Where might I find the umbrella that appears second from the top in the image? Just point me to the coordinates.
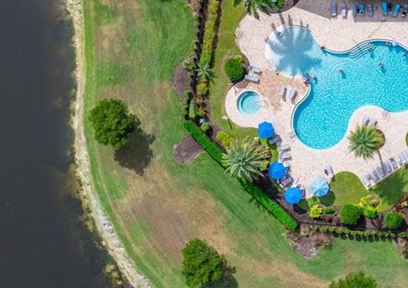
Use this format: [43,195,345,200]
[268,162,286,180]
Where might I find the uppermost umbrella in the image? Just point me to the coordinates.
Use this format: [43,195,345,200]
[258,122,275,138]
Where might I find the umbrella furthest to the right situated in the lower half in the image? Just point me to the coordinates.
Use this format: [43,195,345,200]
[310,176,330,196]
